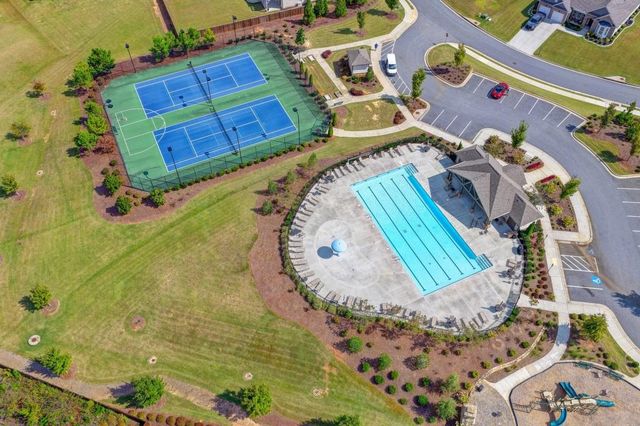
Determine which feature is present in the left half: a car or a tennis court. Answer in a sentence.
It is a tennis court that can be seen in the left half.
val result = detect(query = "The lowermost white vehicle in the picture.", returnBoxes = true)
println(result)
[386,52,399,74]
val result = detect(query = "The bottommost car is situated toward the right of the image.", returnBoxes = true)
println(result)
[490,82,509,99]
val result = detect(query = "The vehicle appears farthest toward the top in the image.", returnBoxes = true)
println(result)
[528,12,544,28]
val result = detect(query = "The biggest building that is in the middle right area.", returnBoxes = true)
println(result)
[444,143,544,237]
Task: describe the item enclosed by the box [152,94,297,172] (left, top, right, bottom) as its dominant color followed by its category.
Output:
blue tennis court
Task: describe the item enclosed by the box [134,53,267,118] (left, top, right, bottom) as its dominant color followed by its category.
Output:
blue tennis court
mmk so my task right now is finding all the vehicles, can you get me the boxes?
[490,82,509,99]
[386,52,399,74]
[528,12,544,28]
